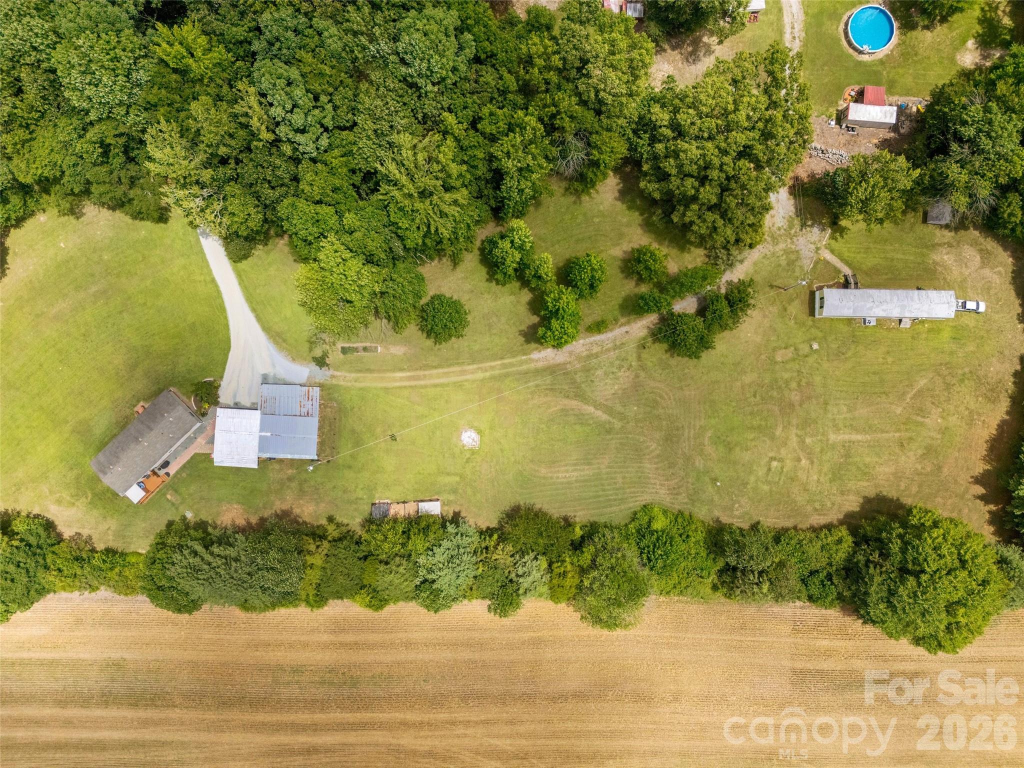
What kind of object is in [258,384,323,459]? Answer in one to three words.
barn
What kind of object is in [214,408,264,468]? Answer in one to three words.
barn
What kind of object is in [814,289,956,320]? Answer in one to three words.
house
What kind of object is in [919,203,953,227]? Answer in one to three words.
shed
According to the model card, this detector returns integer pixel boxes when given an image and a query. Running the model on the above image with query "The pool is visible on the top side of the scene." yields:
[845,6,895,56]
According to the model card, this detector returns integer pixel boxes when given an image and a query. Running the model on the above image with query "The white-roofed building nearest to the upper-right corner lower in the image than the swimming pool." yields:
[840,103,897,129]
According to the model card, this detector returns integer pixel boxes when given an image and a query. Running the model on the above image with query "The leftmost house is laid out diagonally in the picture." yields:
[91,390,205,495]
